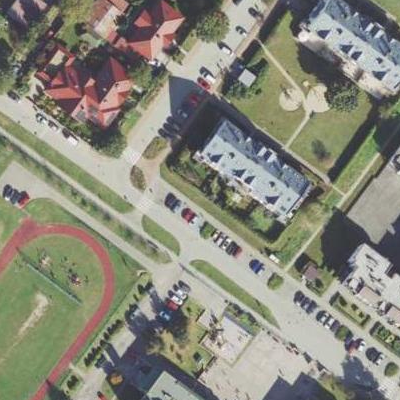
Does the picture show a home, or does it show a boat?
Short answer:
home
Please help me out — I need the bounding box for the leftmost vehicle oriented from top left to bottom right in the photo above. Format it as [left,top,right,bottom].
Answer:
[5,90,20,102]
